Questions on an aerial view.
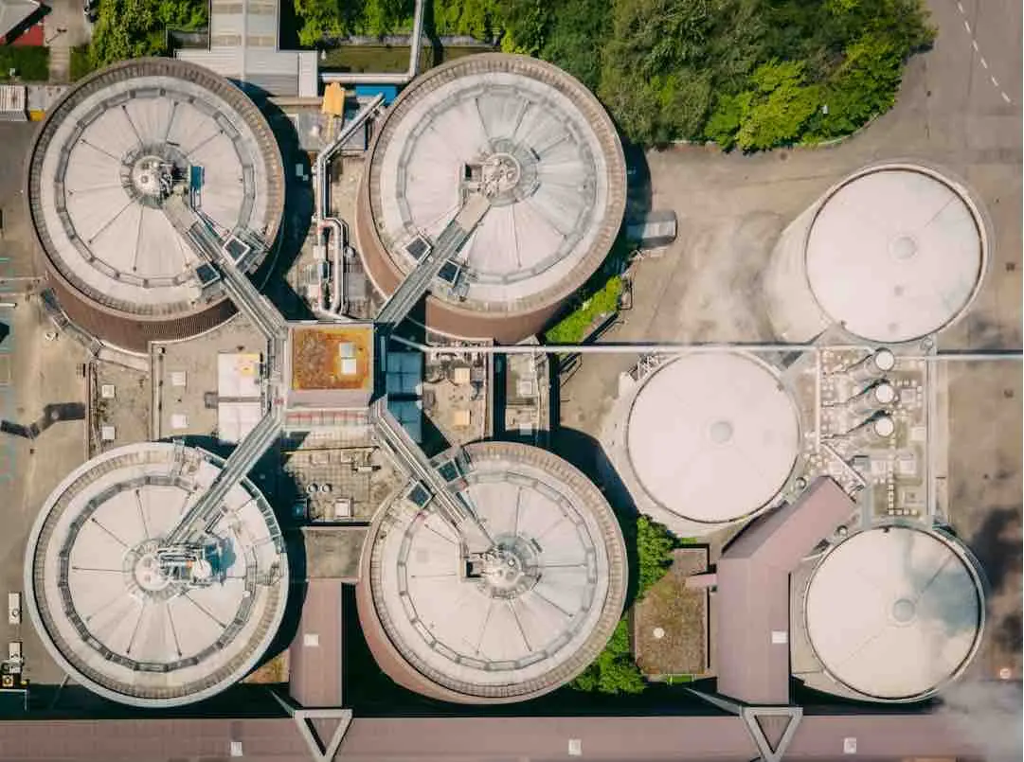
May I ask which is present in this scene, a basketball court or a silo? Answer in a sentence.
I can see a silo in this picture.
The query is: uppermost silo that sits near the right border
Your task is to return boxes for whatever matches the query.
[767,162,988,350]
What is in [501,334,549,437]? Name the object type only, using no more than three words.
building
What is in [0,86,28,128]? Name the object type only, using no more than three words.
shed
